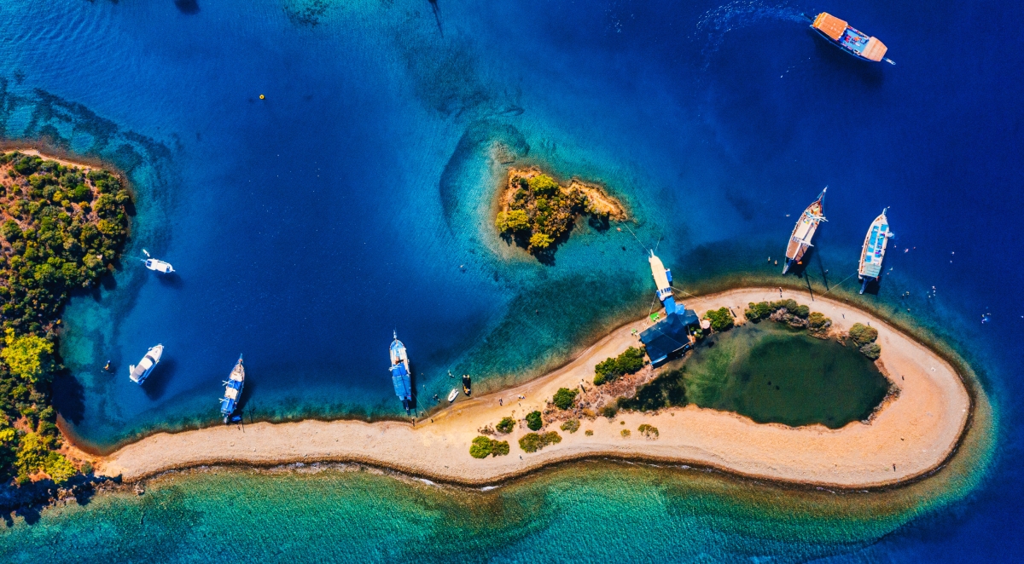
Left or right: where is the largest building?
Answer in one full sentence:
You can find the largest building on the right side of the picture.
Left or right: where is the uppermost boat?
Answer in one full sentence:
It is on the right.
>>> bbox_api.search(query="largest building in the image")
[638,309,701,366]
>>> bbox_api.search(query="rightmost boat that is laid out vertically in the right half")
[859,208,889,293]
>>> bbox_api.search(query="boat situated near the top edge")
[802,10,897,63]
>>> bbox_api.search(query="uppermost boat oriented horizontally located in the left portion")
[141,259,175,273]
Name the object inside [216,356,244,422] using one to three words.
boat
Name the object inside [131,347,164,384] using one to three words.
boat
